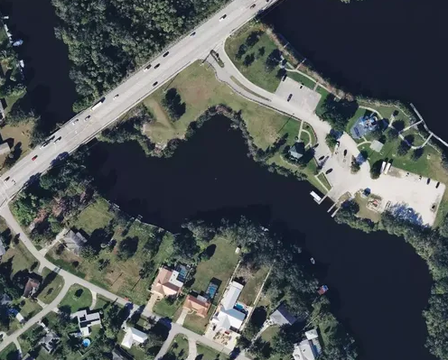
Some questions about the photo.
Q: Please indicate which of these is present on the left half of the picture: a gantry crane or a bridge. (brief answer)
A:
bridge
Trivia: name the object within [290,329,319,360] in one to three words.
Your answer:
house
